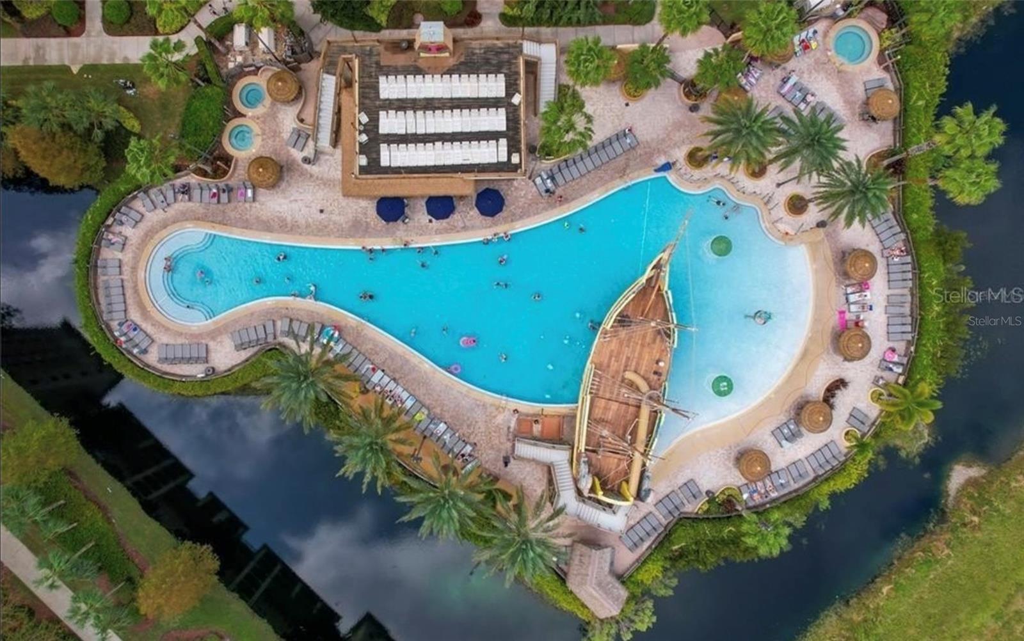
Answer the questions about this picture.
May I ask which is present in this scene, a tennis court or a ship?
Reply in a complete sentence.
Of the two, only a ship appears.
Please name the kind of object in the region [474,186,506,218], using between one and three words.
umbrella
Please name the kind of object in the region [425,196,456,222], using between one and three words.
umbrella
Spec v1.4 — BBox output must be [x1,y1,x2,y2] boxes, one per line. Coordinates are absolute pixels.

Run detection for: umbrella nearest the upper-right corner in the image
[864,88,900,124]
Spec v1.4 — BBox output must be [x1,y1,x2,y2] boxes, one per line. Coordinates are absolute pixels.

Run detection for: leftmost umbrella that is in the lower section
[734,445,770,482]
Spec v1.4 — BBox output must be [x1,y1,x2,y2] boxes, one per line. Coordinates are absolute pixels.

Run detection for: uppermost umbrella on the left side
[266,71,300,105]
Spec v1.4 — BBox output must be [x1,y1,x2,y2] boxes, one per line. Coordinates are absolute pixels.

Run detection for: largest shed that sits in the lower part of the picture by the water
[565,540,629,620]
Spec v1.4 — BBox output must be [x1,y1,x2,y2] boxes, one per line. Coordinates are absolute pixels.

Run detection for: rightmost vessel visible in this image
[571,214,696,515]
